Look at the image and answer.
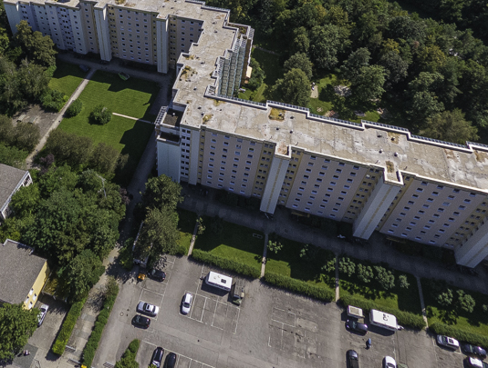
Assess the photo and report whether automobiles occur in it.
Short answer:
Yes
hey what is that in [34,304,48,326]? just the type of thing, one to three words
vehicle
